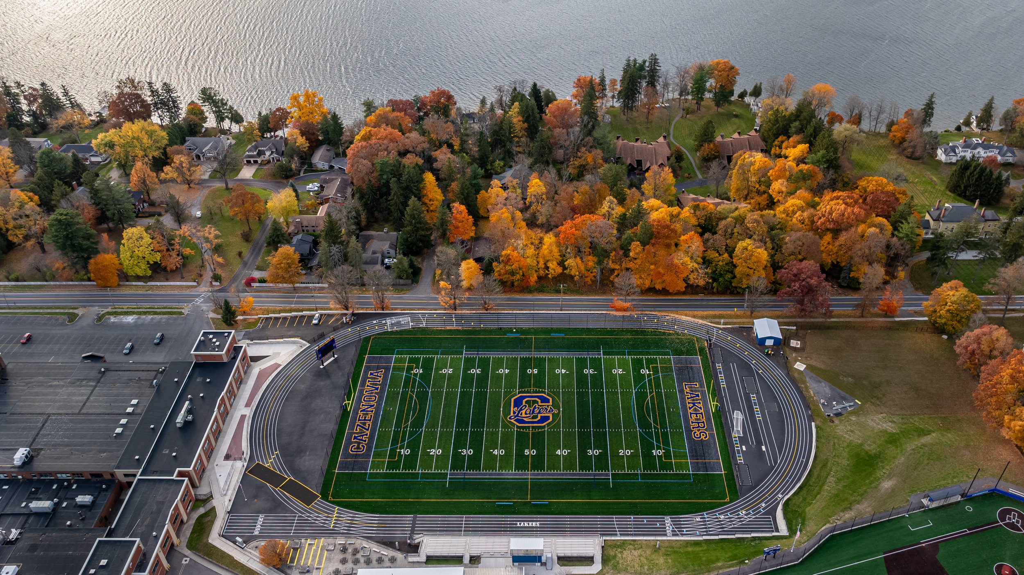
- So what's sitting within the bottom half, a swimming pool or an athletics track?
athletics track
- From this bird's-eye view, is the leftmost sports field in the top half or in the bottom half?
bottom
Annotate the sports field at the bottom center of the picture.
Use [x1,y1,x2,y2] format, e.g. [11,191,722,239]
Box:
[320,327,741,516]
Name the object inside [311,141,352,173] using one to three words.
house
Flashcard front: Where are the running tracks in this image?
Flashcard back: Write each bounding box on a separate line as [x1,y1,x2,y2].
[219,313,814,540]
